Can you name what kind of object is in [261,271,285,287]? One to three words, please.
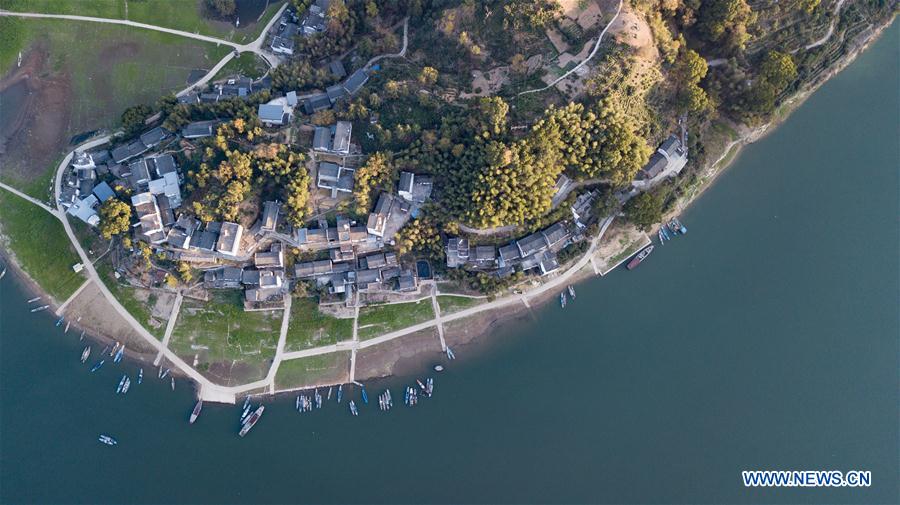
house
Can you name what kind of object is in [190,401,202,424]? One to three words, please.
vessel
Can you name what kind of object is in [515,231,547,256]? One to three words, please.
house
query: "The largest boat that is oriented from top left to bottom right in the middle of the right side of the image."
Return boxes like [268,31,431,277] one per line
[668,218,686,233]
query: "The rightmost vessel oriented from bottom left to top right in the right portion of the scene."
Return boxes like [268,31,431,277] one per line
[627,247,655,269]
